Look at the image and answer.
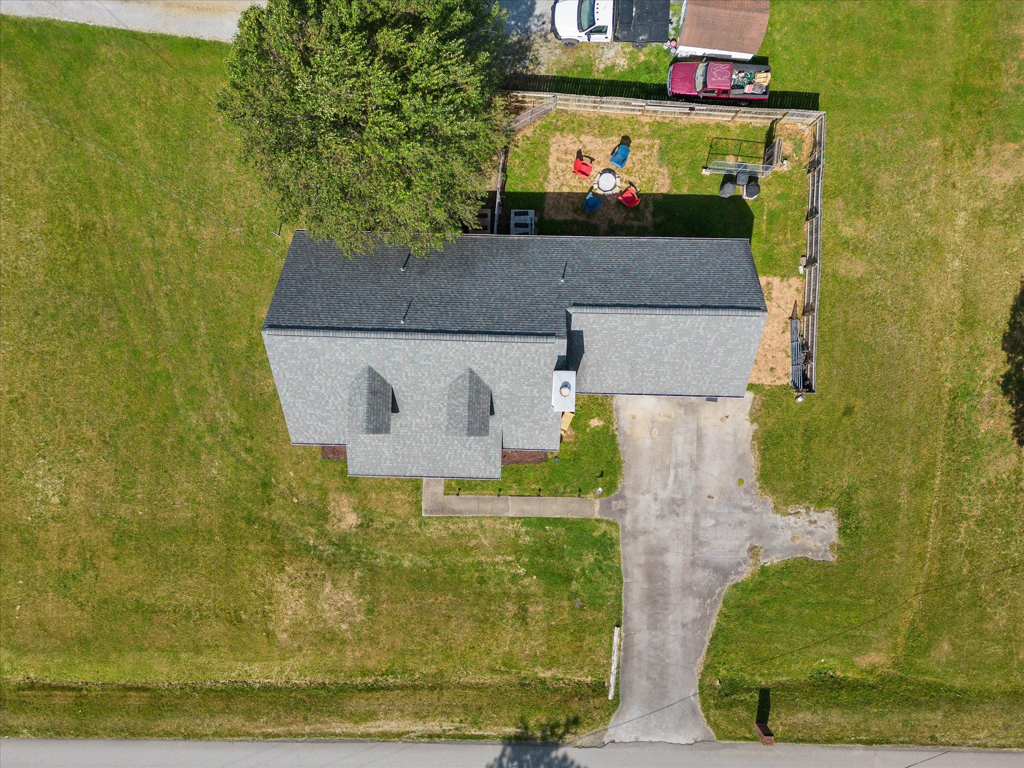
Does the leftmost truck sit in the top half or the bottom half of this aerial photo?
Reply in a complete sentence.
Seen from above, the leftmost truck lies in the top half of the view.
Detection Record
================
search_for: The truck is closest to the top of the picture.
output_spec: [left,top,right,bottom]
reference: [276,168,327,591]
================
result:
[548,0,670,51]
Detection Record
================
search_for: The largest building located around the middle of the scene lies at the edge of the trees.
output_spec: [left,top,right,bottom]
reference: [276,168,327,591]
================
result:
[263,228,768,481]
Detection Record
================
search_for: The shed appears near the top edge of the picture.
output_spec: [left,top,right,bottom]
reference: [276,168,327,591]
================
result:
[675,0,774,61]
